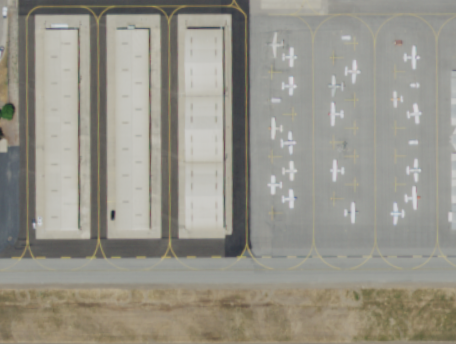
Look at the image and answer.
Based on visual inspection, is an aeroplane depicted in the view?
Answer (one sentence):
Yes, an aeroplane can be made out from above.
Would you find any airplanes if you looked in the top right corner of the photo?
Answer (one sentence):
Yes, an airplane appears in the top right corner of the photo.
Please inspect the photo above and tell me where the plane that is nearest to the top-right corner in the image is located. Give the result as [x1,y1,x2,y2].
[404,44,420,69]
